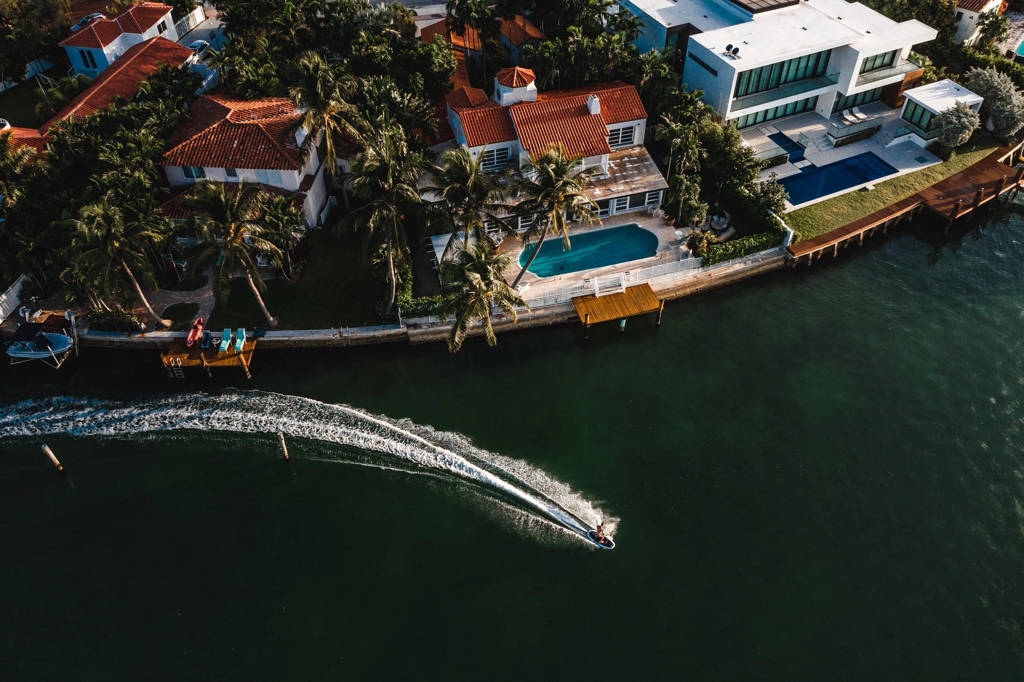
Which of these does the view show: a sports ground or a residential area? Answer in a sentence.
The picture captures a residential area.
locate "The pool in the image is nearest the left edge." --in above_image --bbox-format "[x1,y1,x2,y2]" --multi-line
[514,220,663,281]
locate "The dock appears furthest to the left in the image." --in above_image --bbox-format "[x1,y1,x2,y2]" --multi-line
[161,338,258,380]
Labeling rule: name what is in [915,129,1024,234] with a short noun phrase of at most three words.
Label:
pier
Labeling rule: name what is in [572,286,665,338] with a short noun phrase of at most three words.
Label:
pier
